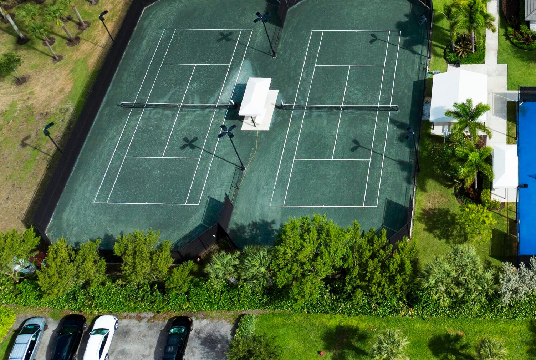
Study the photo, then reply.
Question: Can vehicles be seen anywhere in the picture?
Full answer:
Yes, this view includes a vehicle.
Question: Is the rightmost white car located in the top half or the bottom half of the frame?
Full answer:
Seen from above, the rightmost white car lies in the bottom half of the view.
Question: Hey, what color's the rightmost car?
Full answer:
In this view, the rightmost car is black.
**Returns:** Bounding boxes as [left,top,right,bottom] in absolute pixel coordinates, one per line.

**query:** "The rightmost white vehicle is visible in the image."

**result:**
[81,316,119,360]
